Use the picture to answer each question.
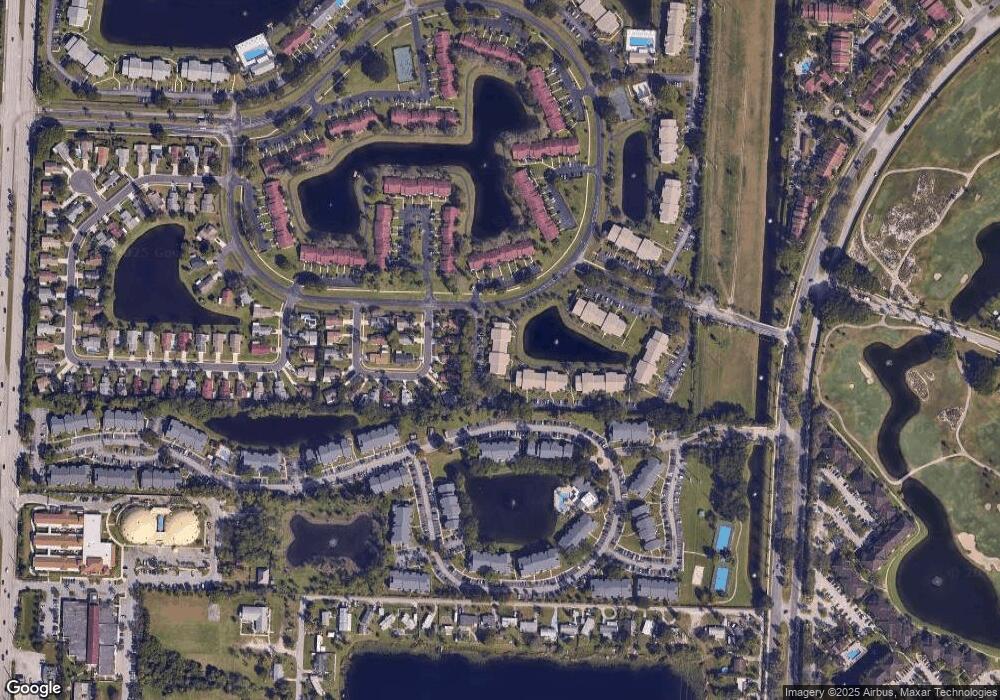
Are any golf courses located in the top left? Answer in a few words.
No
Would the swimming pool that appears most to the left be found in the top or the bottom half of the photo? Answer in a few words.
top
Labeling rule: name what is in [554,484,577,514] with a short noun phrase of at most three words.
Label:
swimming pool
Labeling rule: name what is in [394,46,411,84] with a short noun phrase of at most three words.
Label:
tennis court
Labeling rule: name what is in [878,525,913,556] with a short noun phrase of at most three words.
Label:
house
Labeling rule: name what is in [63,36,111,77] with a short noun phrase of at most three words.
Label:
building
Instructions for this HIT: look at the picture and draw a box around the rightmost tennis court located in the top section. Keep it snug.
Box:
[605,86,635,122]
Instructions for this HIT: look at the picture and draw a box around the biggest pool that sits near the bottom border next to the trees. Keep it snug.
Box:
[840,640,868,667]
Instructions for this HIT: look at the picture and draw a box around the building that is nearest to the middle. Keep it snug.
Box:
[488,323,512,376]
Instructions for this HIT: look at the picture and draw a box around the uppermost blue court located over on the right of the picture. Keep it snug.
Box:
[713,521,734,555]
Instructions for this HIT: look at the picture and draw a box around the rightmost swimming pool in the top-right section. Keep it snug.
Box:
[797,58,812,75]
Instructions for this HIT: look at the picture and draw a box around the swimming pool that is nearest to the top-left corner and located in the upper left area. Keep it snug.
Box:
[234,35,271,69]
